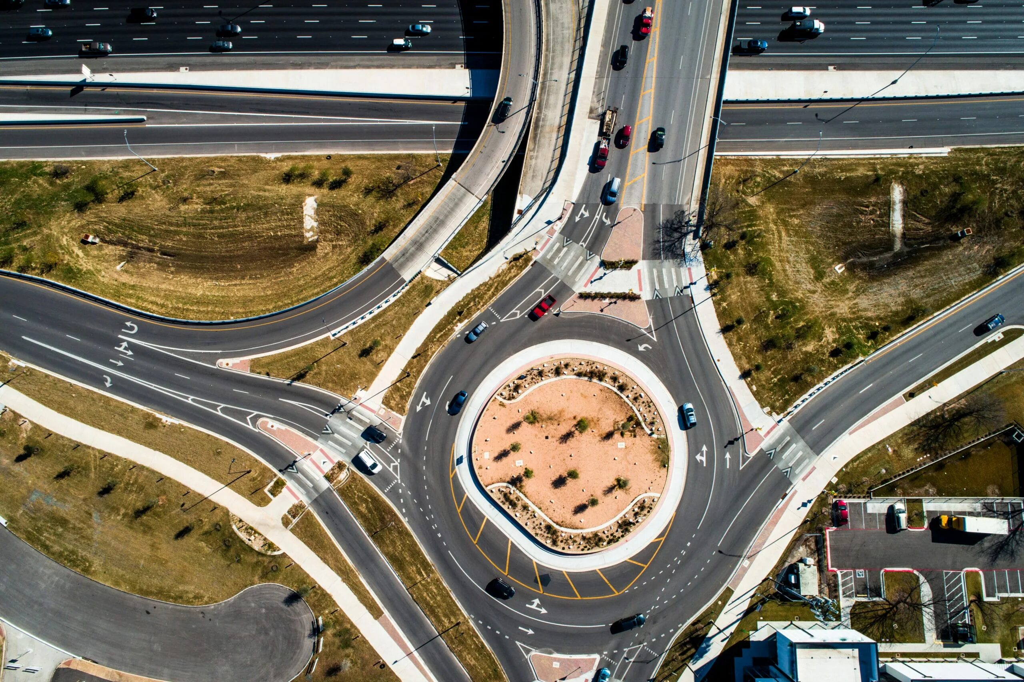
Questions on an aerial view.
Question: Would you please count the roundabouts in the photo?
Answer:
one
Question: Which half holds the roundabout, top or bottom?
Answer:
bottom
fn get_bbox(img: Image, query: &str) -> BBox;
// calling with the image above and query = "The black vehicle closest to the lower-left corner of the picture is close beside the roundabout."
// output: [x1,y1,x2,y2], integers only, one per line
[364,424,389,443]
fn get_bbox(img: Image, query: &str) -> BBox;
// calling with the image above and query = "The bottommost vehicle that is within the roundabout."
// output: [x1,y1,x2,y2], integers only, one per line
[619,613,645,630]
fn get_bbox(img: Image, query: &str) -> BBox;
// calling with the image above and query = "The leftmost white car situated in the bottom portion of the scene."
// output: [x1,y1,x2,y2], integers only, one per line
[359,450,383,473]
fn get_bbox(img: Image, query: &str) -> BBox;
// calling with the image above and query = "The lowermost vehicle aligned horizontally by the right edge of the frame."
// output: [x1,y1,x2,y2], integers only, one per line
[937,515,1011,533]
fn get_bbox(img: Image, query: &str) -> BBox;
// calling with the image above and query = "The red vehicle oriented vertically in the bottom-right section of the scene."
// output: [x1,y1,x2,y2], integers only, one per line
[835,501,849,524]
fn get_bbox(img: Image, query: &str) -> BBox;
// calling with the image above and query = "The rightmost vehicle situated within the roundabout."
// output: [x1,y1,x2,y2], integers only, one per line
[683,403,697,427]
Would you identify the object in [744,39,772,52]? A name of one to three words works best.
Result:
vehicle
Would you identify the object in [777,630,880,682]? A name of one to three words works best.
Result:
building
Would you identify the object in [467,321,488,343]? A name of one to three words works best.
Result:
car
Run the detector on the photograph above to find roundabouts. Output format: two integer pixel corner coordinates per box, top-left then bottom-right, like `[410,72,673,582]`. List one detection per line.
[385,298,776,667]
